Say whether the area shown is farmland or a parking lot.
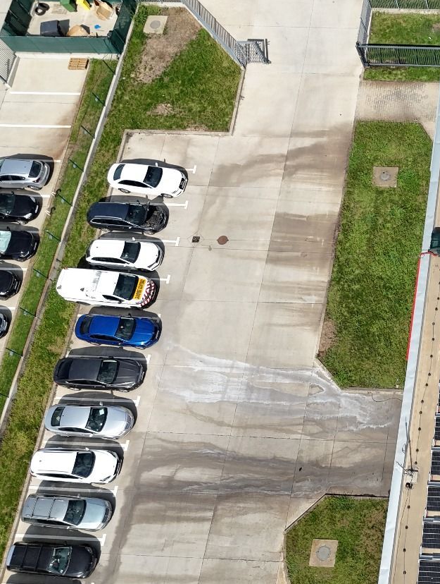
parking lot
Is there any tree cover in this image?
No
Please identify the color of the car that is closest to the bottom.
black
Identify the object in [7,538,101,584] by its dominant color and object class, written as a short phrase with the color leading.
black car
